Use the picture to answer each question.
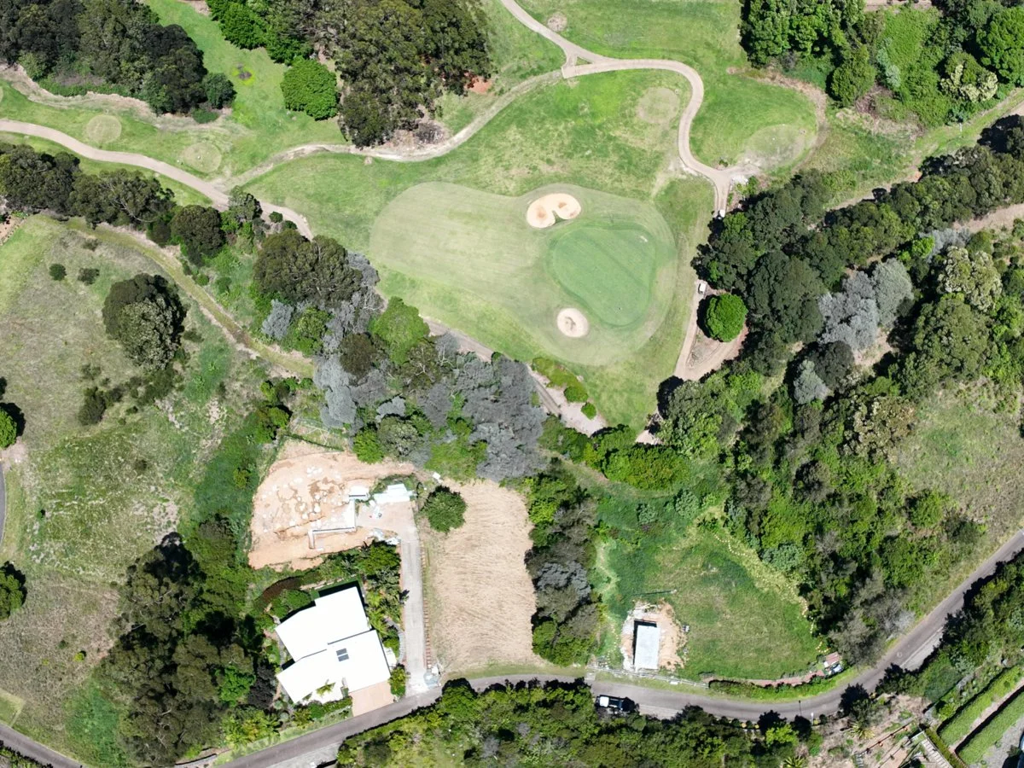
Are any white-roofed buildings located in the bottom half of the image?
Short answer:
Yes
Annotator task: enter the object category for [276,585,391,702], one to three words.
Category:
house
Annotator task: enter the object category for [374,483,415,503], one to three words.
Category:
shed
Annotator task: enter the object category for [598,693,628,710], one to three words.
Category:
vehicle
